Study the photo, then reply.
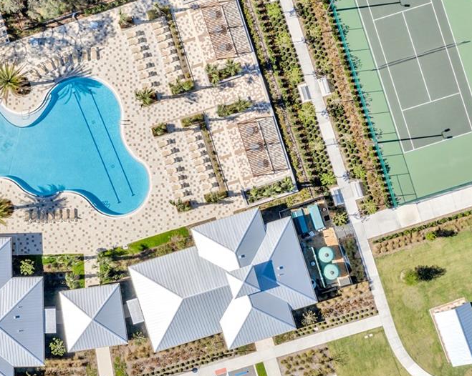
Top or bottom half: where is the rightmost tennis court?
top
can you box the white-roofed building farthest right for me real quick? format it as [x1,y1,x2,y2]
[433,301,472,367]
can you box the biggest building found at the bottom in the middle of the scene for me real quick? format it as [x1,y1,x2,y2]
[131,208,319,352]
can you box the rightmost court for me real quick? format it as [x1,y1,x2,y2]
[357,0,472,153]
